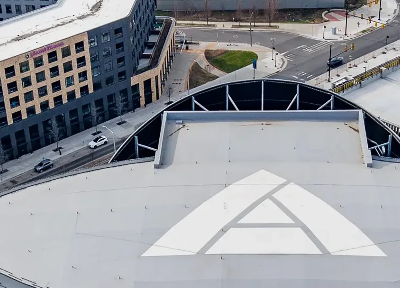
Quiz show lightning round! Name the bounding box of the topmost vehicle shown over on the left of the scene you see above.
[84,132,110,150]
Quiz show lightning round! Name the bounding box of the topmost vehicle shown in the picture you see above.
[325,54,346,67]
